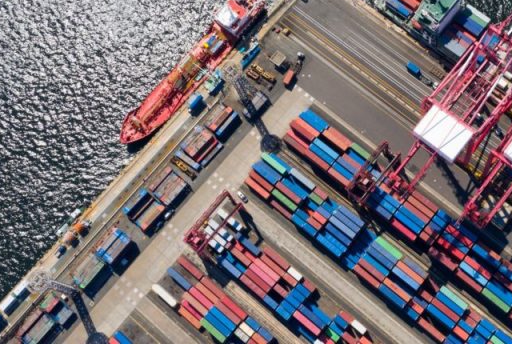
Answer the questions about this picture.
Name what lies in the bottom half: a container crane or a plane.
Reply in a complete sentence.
The one visible in the bottom half is a container crane.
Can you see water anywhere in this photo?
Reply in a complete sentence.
Yes, there's water in this view.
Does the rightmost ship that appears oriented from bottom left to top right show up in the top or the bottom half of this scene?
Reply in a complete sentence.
You can find the rightmost ship that appears oriented from bottom left to top right in the top half.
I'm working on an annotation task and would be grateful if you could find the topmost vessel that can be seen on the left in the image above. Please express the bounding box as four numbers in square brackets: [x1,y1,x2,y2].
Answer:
[119,0,270,142]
